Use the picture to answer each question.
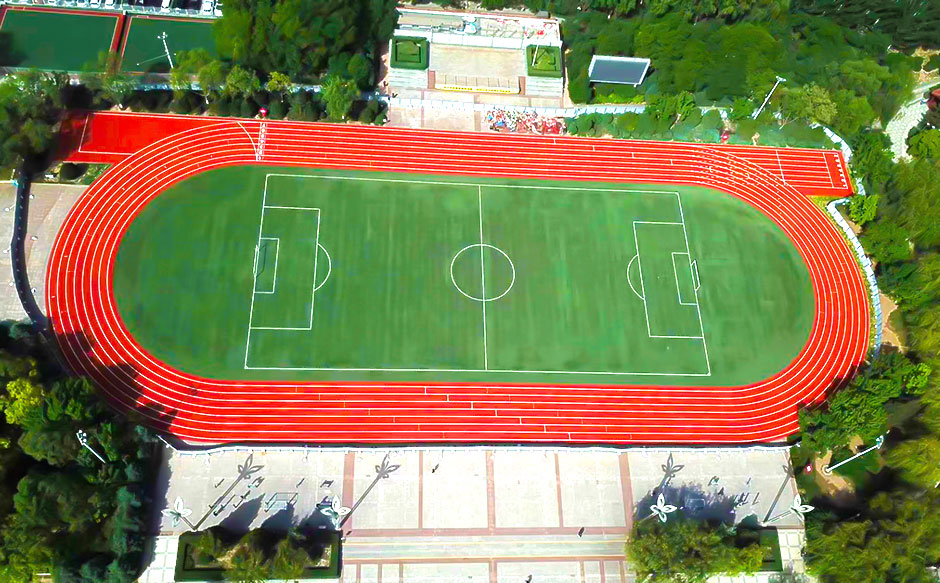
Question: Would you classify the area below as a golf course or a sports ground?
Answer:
sports ground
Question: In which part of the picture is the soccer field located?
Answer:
center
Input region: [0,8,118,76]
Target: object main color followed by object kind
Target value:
green sports court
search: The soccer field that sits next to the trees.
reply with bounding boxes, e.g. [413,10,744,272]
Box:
[114,165,815,387]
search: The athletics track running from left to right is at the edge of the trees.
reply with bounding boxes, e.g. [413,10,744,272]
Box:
[37,110,869,445]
